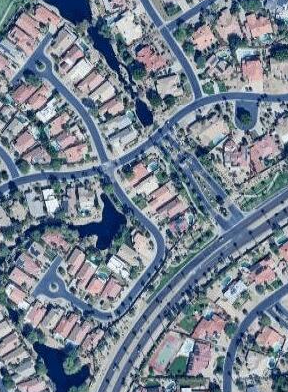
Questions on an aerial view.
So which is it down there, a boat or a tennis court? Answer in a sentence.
There is a tennis court in the scene.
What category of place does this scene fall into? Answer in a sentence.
The picture captures a residential area.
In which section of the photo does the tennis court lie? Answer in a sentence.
The tennis court appears toward the bottom of the photo.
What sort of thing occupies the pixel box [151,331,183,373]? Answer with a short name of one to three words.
tennis court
